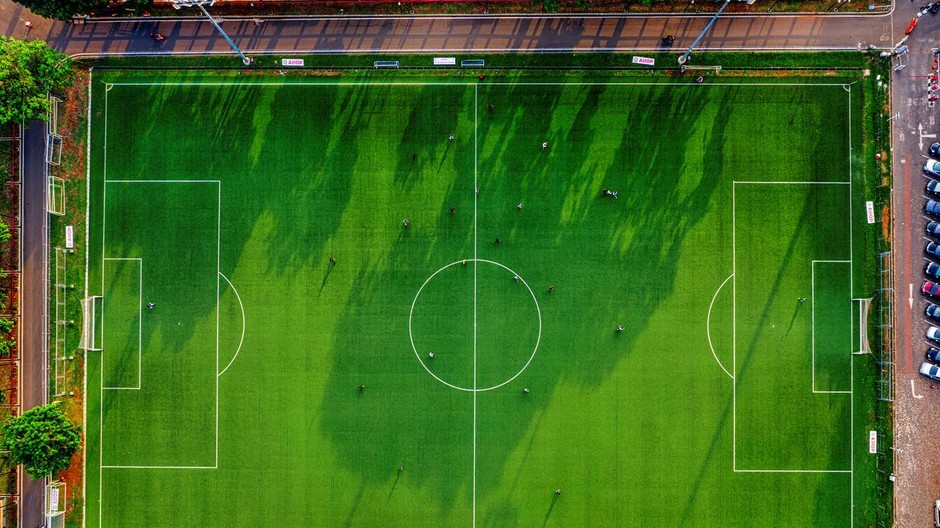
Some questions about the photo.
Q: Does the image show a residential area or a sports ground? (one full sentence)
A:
This looks like a sports ground.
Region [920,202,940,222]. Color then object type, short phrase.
blue car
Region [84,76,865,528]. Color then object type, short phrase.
green soccer field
